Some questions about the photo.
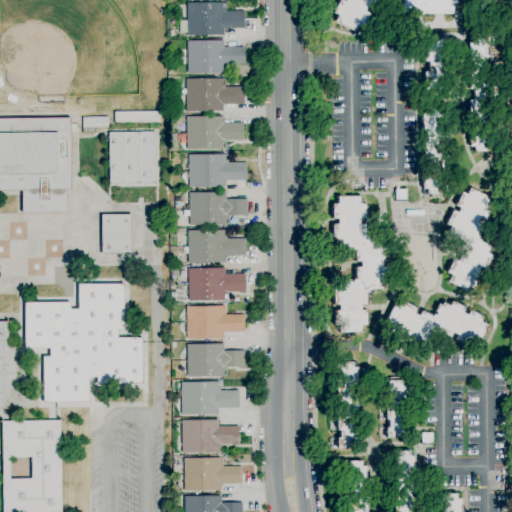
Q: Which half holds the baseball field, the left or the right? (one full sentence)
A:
It is on the left.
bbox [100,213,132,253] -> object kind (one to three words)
building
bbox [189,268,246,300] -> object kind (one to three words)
house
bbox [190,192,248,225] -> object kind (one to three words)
house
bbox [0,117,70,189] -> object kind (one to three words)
building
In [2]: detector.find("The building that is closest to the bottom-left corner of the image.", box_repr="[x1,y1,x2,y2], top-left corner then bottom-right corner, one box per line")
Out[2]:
[2,420,62,512]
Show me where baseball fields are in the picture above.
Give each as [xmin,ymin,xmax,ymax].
[0,0,138,94]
